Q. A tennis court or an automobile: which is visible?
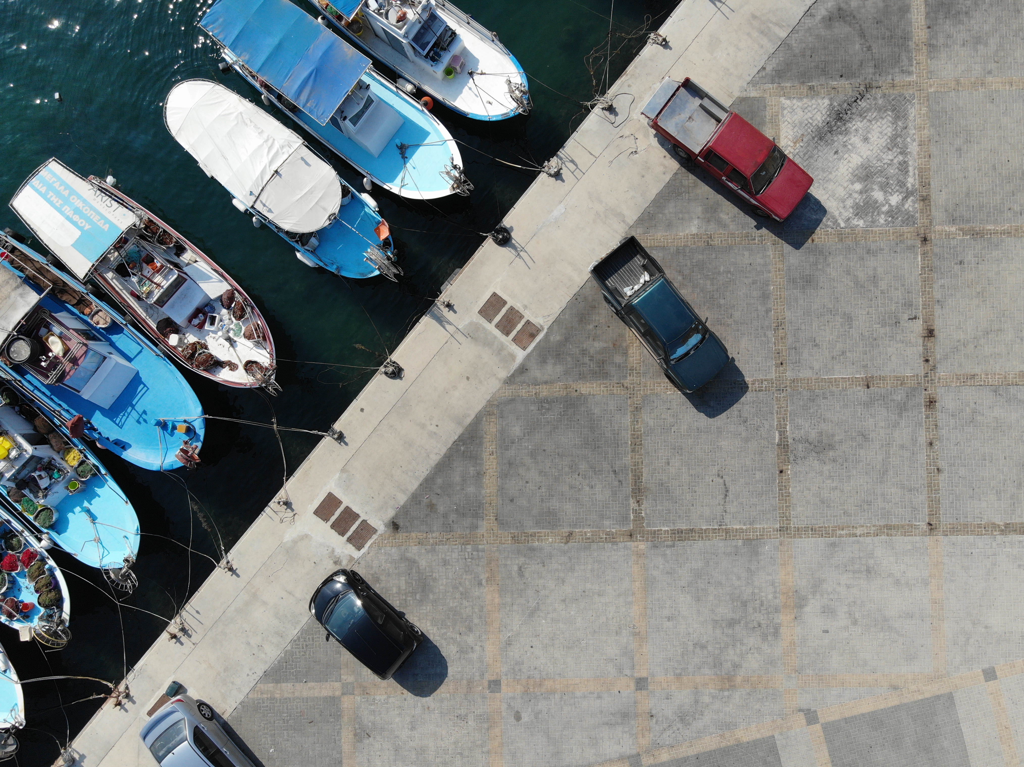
automobile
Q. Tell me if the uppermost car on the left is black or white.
black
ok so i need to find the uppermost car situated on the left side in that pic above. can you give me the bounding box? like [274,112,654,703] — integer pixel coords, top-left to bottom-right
[308,568,425,680]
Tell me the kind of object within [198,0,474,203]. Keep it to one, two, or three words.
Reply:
boat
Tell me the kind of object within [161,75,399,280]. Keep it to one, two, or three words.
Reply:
boat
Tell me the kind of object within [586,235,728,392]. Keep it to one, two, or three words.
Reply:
truck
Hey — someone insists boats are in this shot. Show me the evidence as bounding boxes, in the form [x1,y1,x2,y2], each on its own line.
[9,157,283,395]
[161,75,399,280]
[305,0,533,123]
[0,504,72,649]
[0,228,207,471]
[0,377,142,592]
[198,0,474,203]
[0,633,34,757]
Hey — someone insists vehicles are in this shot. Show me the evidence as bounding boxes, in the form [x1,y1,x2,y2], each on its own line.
[308,568,425,680]
[641,74,813,225]
[144,693,271,767]
[586,235,728,392]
